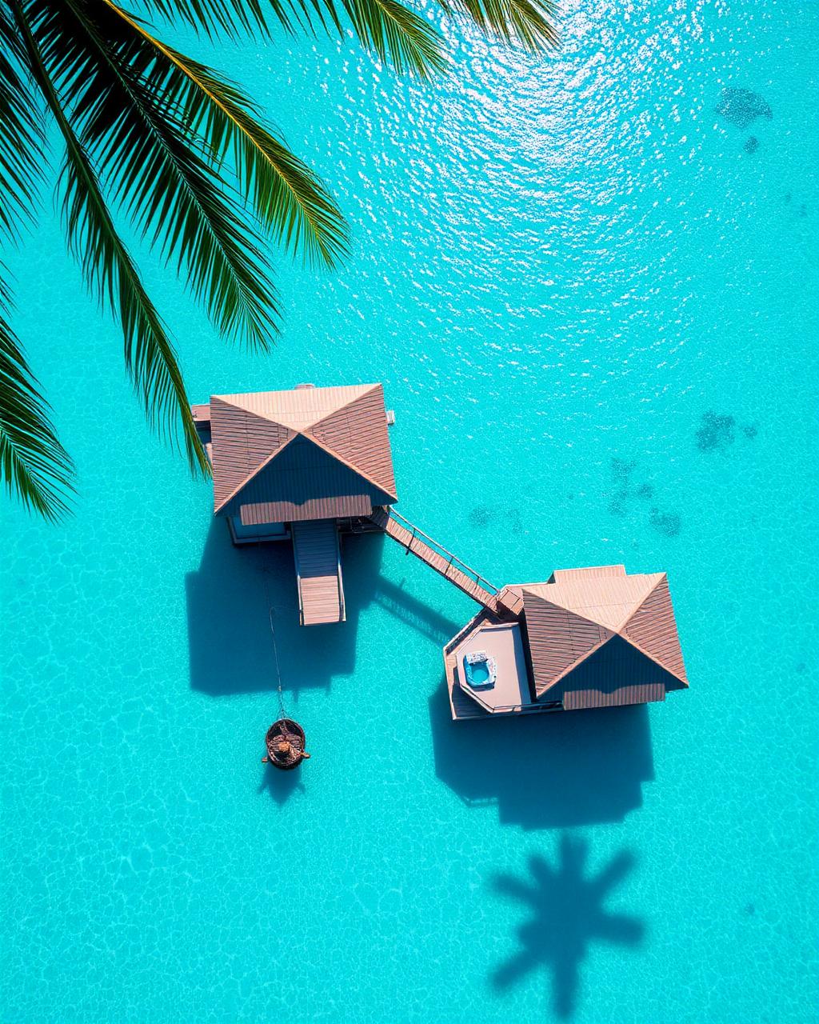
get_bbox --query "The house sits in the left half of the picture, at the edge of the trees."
[192,381,399,626]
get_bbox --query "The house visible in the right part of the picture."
[444,564,691,720]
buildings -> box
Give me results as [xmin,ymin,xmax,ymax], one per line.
[192,381,399,626]
[444,564,691,720]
